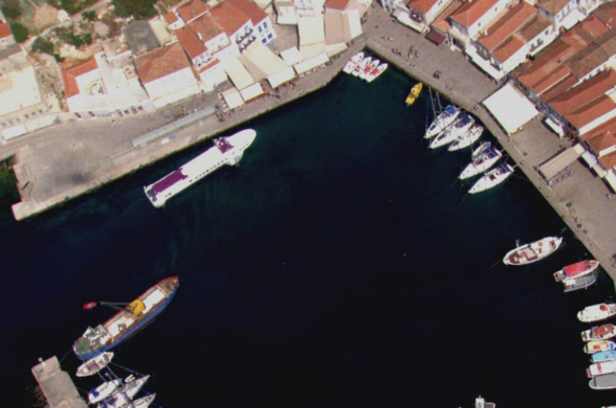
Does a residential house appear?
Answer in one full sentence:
Yes, there is a residential house in the image.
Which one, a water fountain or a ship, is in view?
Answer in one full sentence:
Visible in the photo is a ship.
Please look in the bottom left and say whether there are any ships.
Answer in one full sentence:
Yes, there is a ship in the bottom left.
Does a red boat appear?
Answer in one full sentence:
Yes, you can see a red boat in this photo.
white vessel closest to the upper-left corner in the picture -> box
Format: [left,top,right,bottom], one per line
[144,133,255,210]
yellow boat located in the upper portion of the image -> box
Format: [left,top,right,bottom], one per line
[406,81,422,106]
